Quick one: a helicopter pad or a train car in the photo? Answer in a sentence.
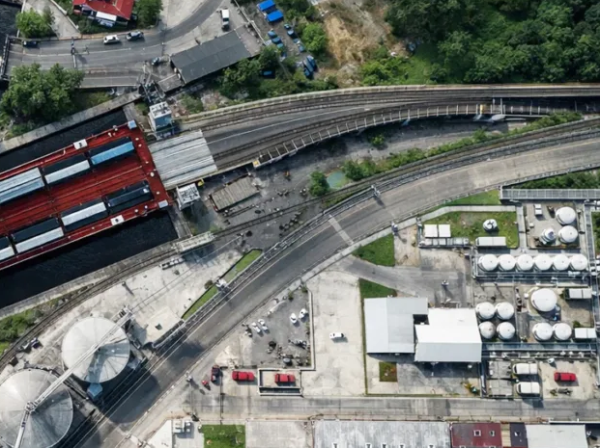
There is a train car in the scene.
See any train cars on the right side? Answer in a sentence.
No, the scene shows no train car on the right side.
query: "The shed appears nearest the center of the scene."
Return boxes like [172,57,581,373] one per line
[212,176,259,212]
